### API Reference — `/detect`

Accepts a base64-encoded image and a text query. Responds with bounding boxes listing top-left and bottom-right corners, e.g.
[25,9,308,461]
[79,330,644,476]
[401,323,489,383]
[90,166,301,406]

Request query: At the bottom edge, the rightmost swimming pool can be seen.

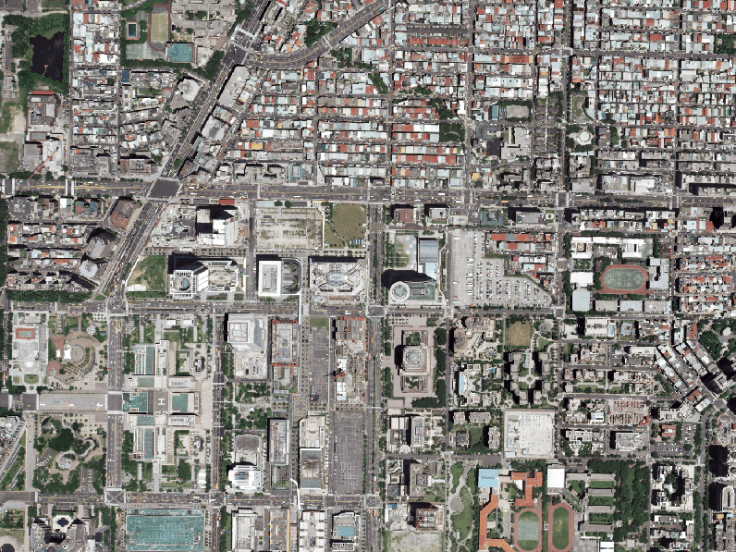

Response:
[53,515,71,531]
